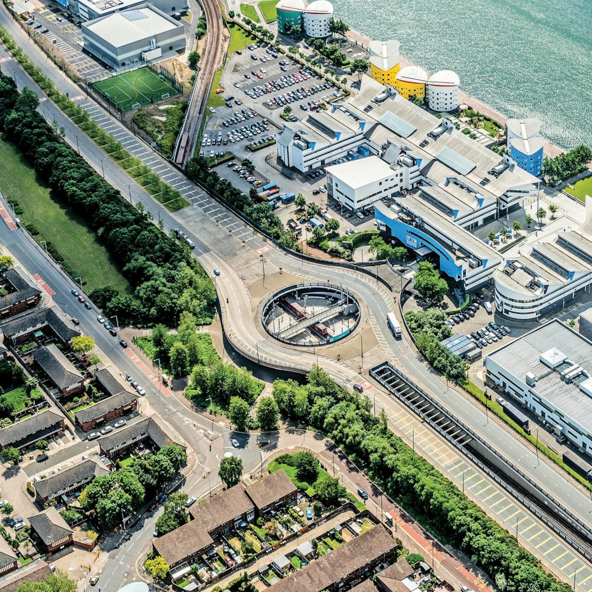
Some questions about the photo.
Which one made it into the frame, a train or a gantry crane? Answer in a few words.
train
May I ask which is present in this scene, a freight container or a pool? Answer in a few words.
freight container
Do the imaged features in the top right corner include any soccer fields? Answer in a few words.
No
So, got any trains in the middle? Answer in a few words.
Yes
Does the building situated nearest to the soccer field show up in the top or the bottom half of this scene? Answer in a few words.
top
